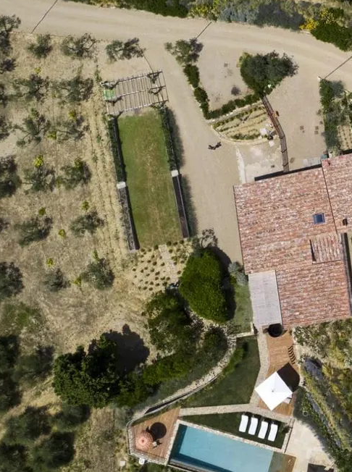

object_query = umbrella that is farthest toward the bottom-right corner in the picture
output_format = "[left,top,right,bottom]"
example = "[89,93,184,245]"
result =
[255,371,292,410]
